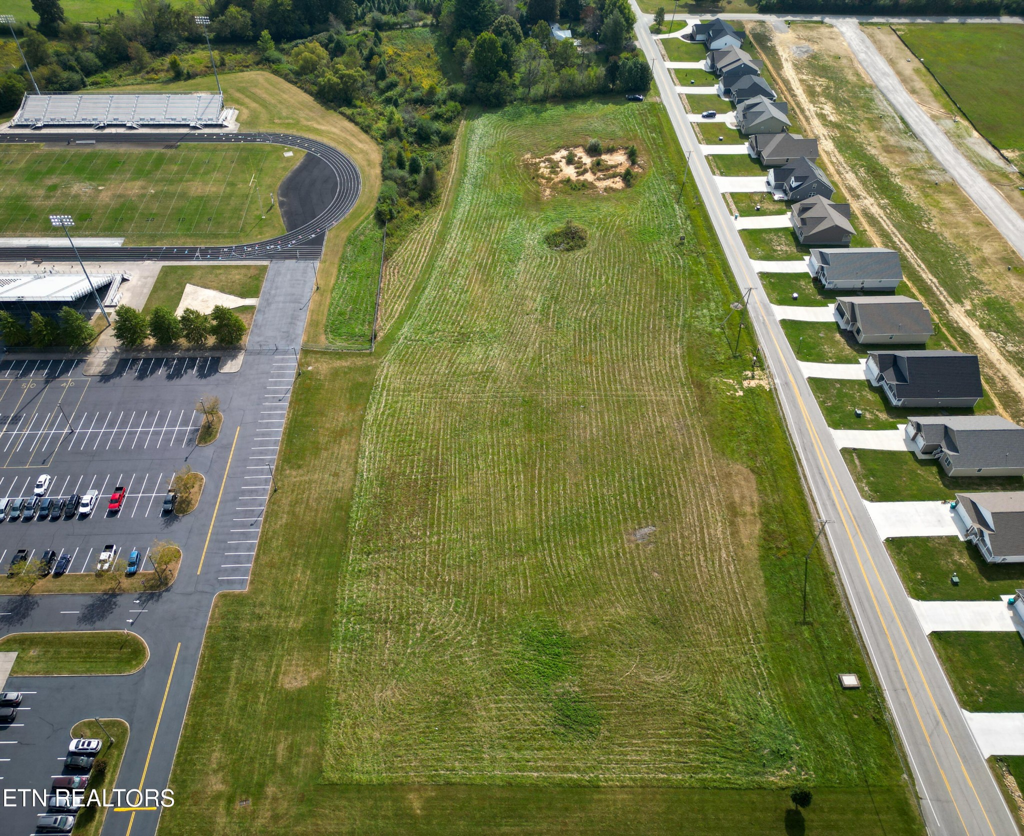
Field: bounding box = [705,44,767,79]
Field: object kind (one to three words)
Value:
house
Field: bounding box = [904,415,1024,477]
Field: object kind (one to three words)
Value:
house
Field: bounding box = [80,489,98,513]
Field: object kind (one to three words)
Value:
vehicle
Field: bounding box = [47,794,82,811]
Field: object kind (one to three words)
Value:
car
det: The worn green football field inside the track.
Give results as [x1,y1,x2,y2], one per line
[0,143,306,248]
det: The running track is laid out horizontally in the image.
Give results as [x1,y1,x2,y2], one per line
[0,133,360,261]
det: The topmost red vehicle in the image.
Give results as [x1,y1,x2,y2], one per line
[108,487,125,511]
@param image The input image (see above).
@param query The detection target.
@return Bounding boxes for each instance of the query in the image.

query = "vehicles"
[80,489,98,513]
[38,498,53,517]
[64,494,80,514]
[161,489,177,513]
[22,495,40,516]
[0,707,18,722]
[63,754,96,769]
[69,738,102,754]
[52,774,87,791]
[0,497,13,519]
[37,814,73,832]
[96,545,115,572]
[124,551,140,573]
[702,110,716,117]
[39,550,57,573]
[32,475,48,495]
[108,487,125,511]
[0,691,23,706]
[7,497,26,519]
[54,553,71,576]
[50,499,66,517]
[47,794,82,811]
